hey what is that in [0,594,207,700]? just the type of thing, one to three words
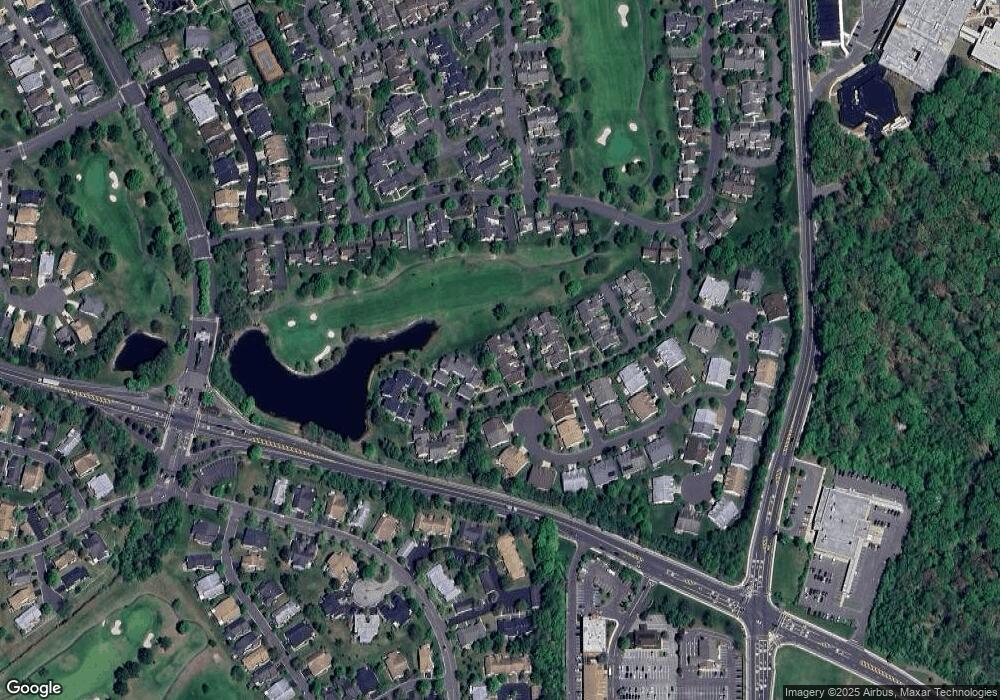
golf course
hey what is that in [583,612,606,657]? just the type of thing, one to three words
building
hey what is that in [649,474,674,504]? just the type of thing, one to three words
house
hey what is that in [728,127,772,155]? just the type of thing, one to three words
house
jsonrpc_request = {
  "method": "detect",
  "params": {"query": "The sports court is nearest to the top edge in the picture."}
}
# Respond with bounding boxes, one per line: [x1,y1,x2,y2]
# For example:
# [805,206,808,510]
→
[232,5,264,46]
